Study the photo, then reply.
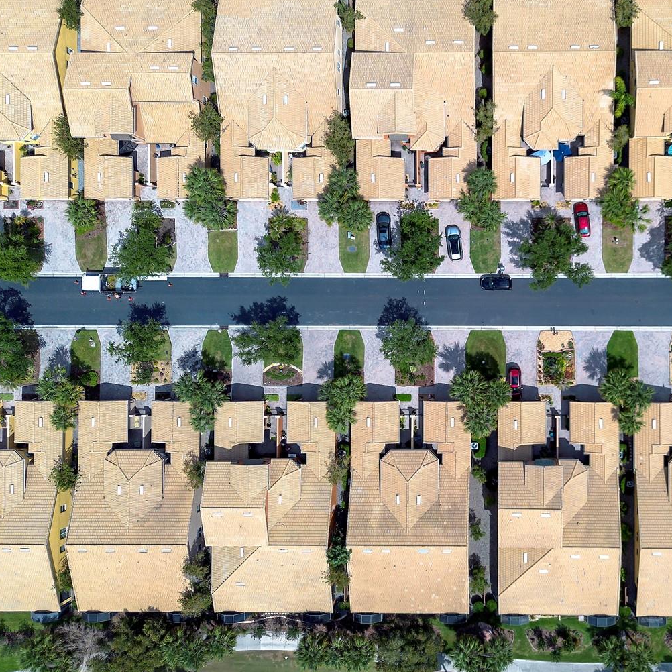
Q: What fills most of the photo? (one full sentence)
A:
The largest share of the image is taken up by buildings.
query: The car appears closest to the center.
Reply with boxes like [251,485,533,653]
[374,213,391,247]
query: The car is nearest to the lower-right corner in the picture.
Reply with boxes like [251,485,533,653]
[507,365,523,398]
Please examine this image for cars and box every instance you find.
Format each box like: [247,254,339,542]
[374,213,391,247]
[507,365,523,398]
[572,202,589,236]
[445,224,462,260]
[480,274,513,290]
